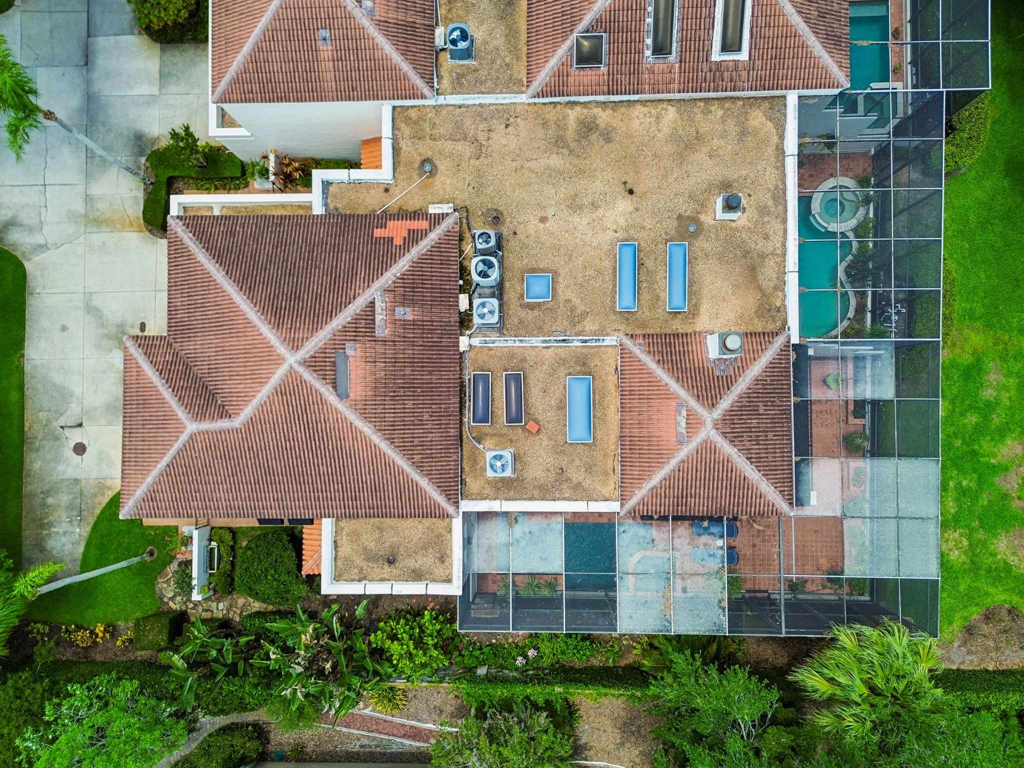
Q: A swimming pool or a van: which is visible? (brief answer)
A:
swimming pool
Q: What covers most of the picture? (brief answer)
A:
buildings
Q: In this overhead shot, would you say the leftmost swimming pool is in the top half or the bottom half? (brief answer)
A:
bottom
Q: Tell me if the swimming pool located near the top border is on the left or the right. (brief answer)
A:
right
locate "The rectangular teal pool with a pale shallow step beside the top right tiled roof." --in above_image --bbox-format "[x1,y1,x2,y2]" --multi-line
[832,2,902,131]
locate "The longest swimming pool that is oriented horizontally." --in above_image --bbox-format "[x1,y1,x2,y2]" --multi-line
[496,512,681,598]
